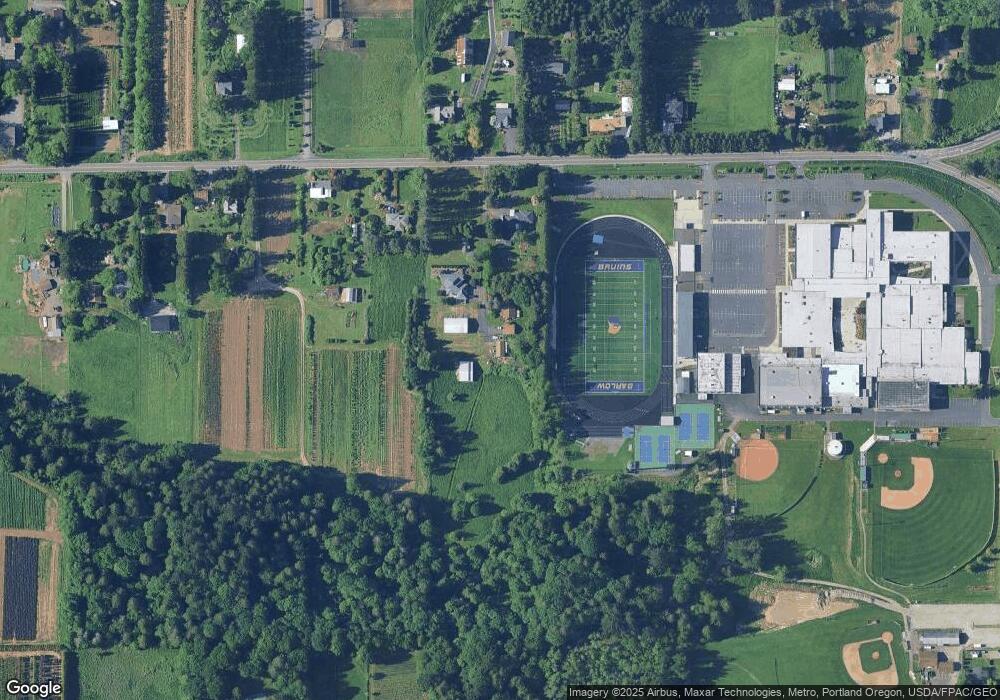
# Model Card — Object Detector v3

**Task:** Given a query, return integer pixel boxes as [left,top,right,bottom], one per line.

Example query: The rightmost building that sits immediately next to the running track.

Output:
[760,209,980,414]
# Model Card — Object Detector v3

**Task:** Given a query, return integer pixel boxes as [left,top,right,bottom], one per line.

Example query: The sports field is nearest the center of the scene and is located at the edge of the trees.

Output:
[566,258,661,394]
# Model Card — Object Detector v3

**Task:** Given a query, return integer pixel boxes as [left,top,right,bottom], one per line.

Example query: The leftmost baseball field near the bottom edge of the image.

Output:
[843,632,898,700]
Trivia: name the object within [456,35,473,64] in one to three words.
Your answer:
barn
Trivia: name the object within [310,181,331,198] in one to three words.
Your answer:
house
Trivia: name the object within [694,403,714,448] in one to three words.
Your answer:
tennis court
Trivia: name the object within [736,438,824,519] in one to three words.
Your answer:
baseball field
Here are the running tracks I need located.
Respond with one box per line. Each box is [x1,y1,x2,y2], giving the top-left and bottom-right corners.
[553,214,673,437]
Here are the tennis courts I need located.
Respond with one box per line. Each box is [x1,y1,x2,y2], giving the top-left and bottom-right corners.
[694,403,714,448]
[676,403,694,448]
[655,426,676,468]
[635,426,655,468]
